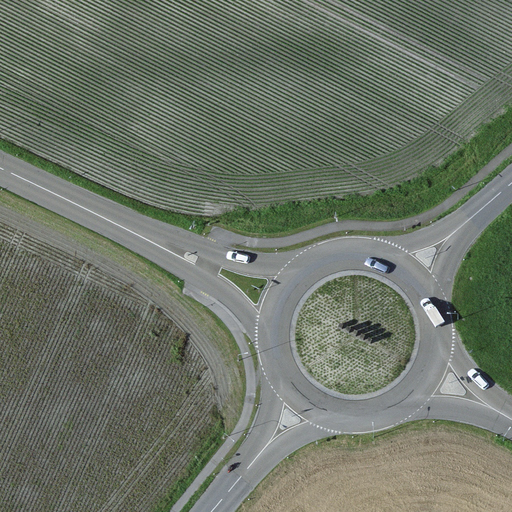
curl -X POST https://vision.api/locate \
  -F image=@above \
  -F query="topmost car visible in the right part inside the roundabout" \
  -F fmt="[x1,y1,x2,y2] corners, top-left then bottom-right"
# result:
[366,258,388,273]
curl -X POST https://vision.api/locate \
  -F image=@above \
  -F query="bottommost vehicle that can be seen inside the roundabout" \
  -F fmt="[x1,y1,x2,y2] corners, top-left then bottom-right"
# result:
[421,298,445,328]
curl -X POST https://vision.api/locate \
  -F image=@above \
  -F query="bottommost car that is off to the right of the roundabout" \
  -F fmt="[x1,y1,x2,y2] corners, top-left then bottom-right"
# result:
[468,369,490,390]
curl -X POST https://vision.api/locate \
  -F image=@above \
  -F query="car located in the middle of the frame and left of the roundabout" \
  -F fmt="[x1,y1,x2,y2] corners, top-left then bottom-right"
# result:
[226,251,250,263]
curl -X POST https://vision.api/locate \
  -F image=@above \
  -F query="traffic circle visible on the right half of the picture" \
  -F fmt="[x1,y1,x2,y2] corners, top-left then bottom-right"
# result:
[255,236,455,434]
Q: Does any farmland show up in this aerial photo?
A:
Yes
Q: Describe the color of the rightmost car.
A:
white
